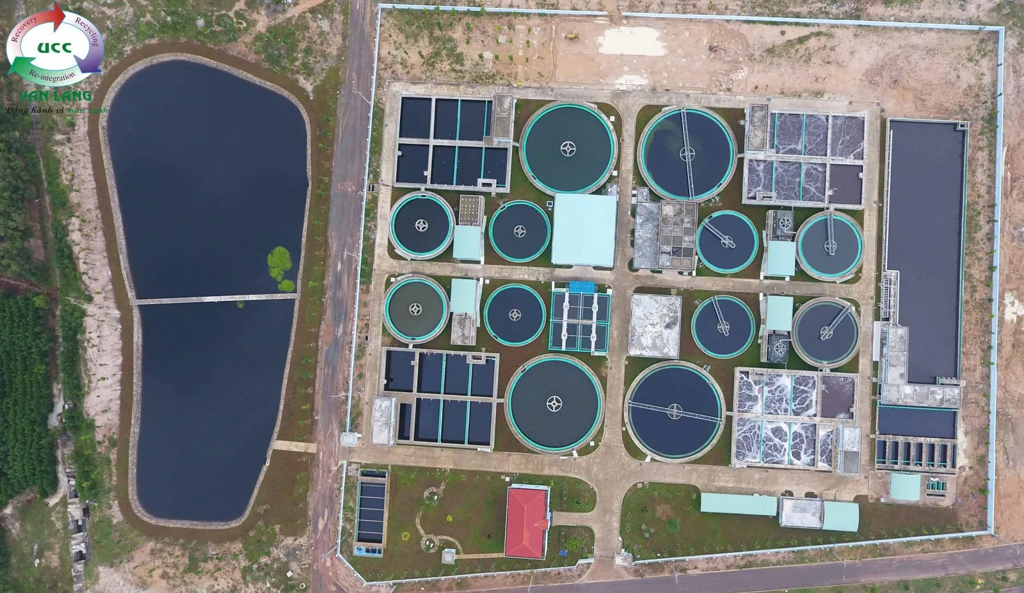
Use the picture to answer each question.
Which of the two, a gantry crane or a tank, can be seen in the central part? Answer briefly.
tank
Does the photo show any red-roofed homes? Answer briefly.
Yes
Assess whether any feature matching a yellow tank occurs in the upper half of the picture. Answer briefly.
No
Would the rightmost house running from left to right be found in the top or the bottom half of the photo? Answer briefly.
bottom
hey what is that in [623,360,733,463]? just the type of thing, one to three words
storage tank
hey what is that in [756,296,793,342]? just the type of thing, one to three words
house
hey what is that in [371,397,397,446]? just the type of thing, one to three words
building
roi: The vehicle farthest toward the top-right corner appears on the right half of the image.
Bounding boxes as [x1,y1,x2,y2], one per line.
[708,43,726,56]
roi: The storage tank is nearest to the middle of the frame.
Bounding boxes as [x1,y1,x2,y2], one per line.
[484,283,547,346]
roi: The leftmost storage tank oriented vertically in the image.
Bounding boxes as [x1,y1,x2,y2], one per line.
[354,468,388,549]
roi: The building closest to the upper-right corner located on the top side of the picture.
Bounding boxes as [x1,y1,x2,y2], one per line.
[742,104,769,152]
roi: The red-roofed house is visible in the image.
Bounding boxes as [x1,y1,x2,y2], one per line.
[504,484,553,560]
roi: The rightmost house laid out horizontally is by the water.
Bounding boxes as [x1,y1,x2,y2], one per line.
[879,385,961,408]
